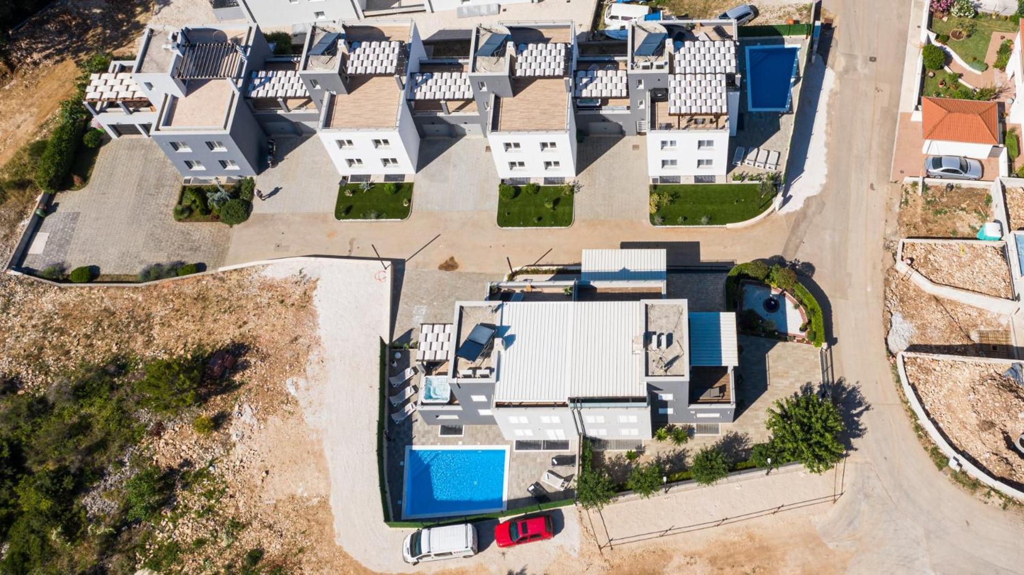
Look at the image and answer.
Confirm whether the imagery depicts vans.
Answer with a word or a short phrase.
Yes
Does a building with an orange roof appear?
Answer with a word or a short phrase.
Yes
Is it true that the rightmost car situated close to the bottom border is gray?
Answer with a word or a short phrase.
No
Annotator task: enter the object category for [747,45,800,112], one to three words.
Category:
swimming pool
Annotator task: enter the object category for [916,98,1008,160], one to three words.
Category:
building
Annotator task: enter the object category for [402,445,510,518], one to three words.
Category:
swimming pool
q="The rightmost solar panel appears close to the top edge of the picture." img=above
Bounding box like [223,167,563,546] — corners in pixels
[631,28,668,63]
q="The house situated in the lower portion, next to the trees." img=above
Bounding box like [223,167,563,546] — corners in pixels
[418,276,735,453]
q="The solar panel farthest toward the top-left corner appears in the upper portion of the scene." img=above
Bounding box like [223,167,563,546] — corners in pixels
[307,27,344,63]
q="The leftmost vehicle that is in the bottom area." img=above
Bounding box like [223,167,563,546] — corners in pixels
[404,519,481,561]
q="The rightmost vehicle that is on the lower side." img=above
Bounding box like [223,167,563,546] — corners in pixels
[493,511,557,547]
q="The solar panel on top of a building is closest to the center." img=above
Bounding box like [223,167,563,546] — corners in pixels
[450,312,497,361]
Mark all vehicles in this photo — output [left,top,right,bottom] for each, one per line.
[404,519,481,561]
[493,511,557,547]
[922,153,985,181]
[715,1,766,28]
[599,3,658,27]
